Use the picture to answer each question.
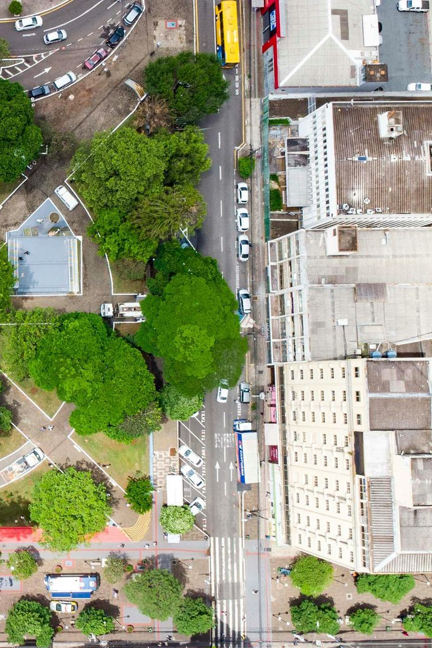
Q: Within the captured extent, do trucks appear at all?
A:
Yes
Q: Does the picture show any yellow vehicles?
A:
Yes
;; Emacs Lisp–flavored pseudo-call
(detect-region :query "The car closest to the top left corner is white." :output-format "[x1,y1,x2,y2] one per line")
[15,16,42,31]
